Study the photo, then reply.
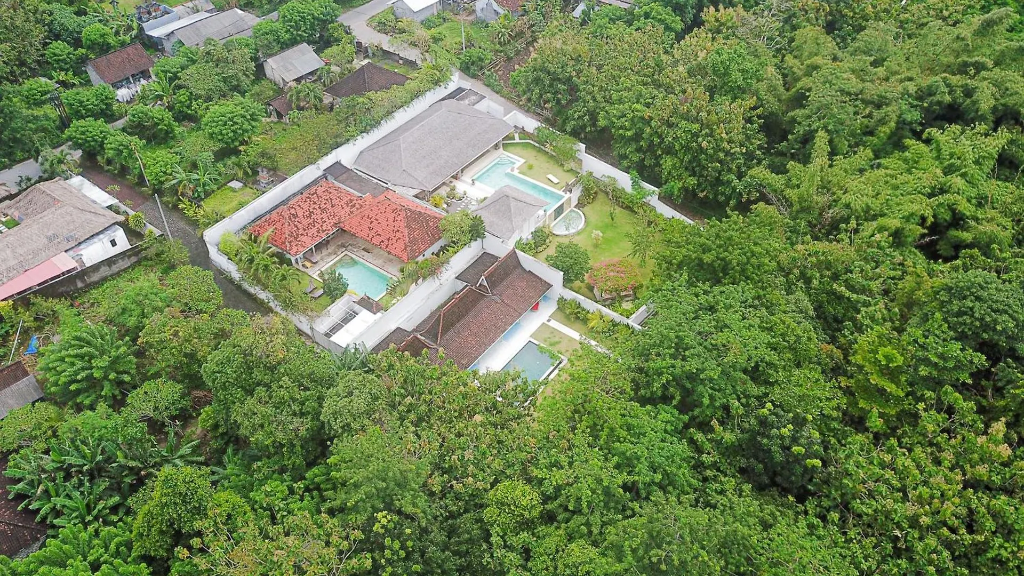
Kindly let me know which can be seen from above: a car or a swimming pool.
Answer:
swimming pool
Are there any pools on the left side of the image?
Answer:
Yes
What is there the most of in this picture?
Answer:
trees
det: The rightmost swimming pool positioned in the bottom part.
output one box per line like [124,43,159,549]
[491,336,576,399]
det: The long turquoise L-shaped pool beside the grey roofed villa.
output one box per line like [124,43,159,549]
[465,152,571,215]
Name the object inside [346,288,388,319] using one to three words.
building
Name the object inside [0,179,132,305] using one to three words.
house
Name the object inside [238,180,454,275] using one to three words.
house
